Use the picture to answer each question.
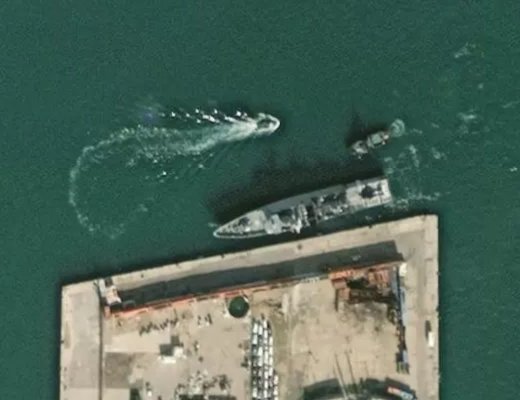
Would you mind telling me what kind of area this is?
port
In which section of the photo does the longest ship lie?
center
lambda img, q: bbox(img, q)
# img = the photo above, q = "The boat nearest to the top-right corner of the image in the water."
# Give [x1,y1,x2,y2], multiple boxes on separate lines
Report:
[349,130,389,156]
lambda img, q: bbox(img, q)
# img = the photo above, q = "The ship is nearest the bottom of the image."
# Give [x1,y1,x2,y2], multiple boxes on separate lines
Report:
[213,175,394,240]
